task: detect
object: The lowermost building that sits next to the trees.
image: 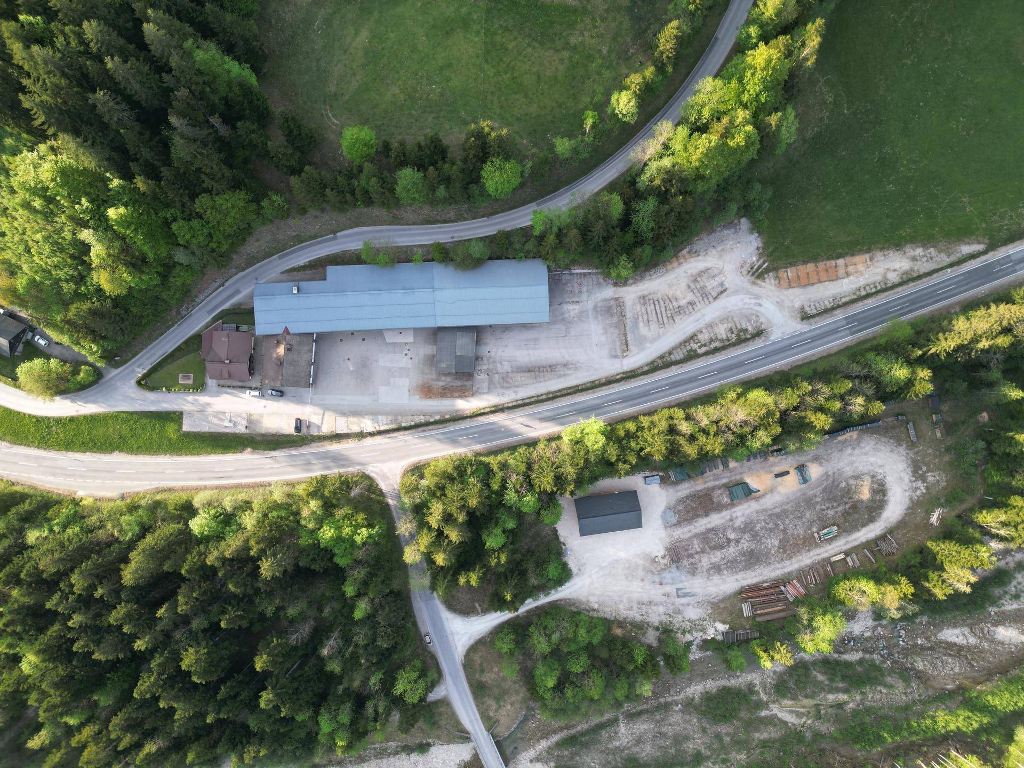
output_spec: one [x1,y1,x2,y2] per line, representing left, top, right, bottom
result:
[574,490,642,536]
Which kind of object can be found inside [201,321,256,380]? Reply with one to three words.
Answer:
house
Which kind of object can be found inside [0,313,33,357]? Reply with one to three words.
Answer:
house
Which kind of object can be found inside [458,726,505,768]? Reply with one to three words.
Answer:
bridge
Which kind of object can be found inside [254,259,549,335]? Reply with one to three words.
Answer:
building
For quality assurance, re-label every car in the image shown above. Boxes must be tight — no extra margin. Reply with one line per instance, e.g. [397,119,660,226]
[268,389,282,396]
[245,390,261,396]
[293,418,301,433]
[423,632,433,646]
[33,335,48,346]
